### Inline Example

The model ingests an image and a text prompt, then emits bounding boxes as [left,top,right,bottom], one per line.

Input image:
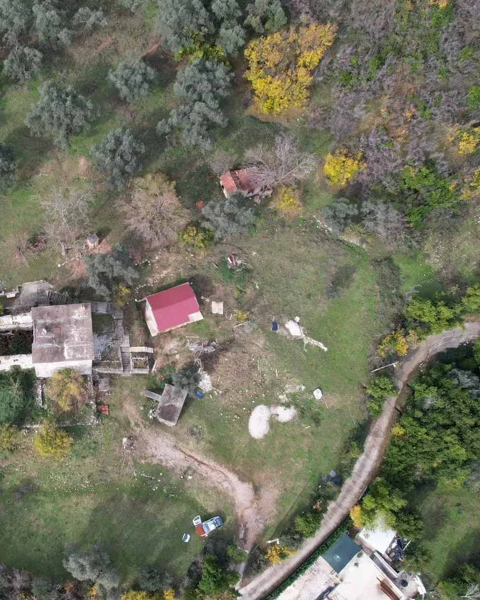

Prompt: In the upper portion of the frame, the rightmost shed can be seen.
[219,167,271,204]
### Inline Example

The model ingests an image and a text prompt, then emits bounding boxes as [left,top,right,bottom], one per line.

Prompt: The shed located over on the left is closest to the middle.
[137,283,204,339]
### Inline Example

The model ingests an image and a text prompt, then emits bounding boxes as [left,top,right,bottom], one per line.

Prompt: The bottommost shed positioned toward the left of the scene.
[156,384,187,427]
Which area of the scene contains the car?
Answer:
bottom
